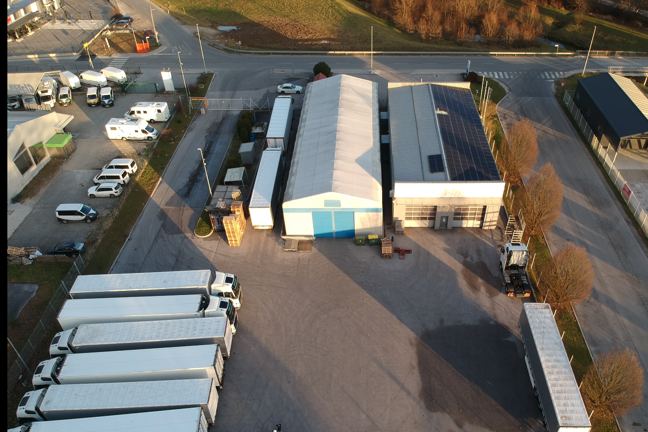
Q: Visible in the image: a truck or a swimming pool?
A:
truck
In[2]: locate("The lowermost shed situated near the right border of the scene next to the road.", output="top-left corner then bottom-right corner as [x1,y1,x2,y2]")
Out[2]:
[572,70,648,168]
